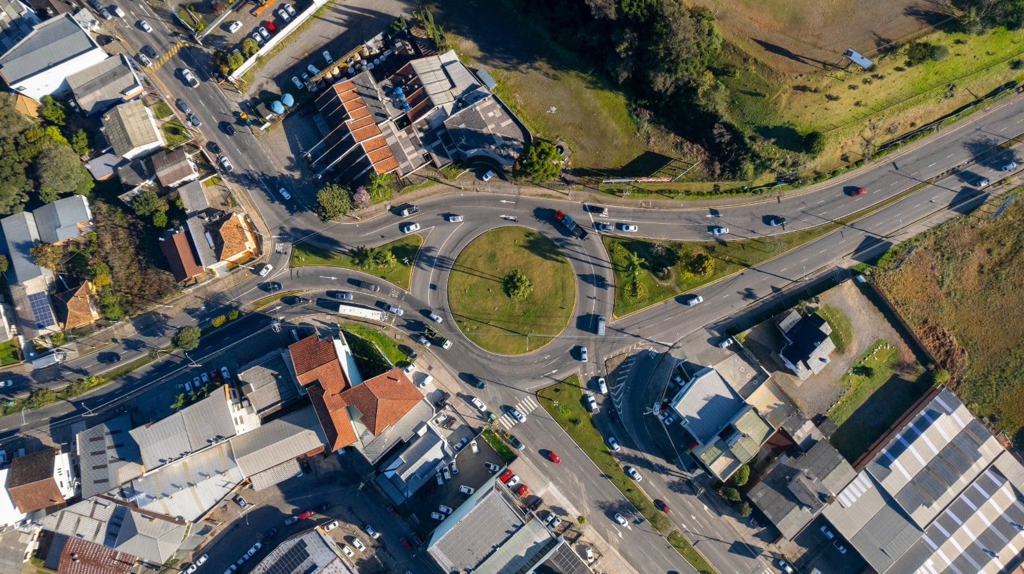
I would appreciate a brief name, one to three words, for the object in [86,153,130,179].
house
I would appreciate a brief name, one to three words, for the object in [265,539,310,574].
solar array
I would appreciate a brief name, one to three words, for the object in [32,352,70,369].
vehicle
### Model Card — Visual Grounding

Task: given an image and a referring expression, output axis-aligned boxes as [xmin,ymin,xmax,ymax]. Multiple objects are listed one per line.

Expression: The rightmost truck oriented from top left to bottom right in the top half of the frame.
[553,209,587,239]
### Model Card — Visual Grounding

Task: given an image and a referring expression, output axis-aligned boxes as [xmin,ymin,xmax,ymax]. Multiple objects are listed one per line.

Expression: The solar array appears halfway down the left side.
[27,291,55,329]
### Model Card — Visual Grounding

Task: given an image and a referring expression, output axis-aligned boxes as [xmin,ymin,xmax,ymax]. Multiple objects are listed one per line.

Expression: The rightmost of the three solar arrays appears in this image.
[555,546,580,574]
